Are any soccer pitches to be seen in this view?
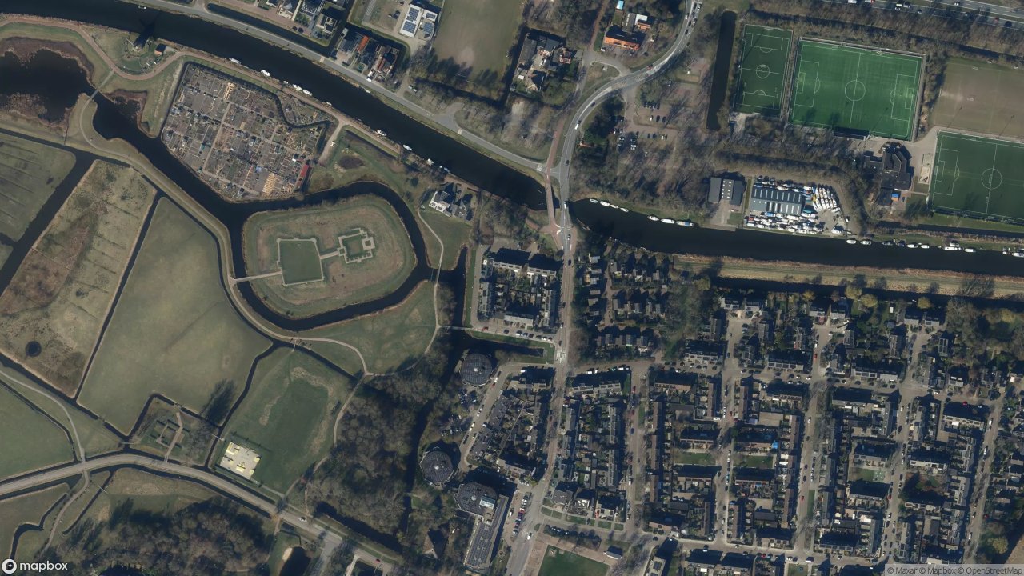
Yes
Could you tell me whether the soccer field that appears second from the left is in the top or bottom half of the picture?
top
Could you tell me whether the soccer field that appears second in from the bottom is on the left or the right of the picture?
right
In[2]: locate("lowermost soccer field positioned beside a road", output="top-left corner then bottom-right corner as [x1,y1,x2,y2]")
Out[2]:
[537,546,611,576]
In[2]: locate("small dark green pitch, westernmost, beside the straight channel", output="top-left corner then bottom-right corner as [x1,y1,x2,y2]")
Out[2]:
[733,24,793,118]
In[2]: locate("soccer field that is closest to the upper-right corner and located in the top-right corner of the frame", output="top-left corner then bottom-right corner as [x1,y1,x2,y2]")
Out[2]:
[941,61,1024,136]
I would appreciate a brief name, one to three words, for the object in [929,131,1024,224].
soccer field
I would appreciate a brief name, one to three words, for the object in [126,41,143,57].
windmill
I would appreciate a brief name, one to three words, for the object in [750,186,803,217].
building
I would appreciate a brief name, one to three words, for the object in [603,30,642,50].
house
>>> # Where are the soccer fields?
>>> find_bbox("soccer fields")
[733,24,793,118]
[537,546,611,576]
[788,37,926,141]
[941,61,1024,136]
[929,131,1024,224]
